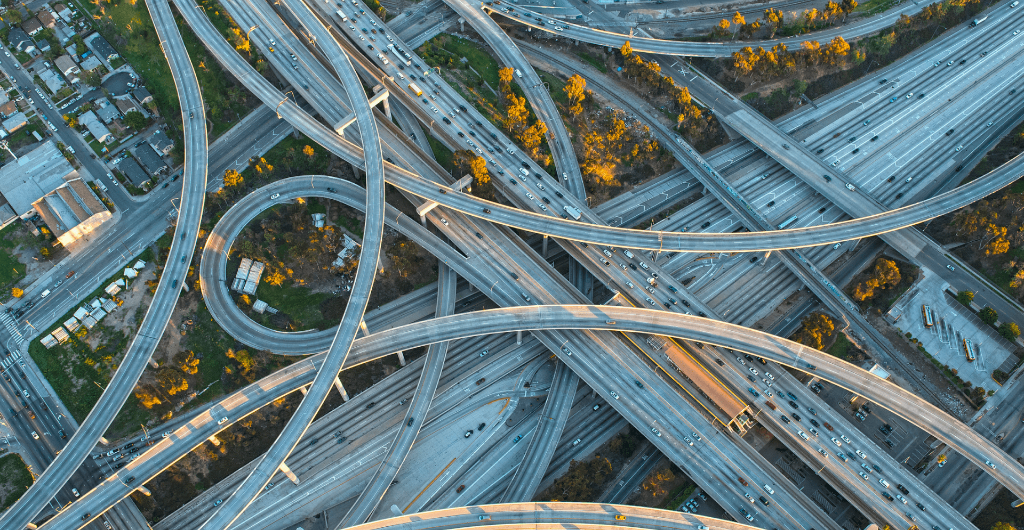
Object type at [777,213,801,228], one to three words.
vehicle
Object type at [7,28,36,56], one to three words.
house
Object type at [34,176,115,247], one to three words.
building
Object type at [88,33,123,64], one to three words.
house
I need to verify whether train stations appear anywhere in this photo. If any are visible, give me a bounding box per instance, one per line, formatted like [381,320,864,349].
[606,291,766,447]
